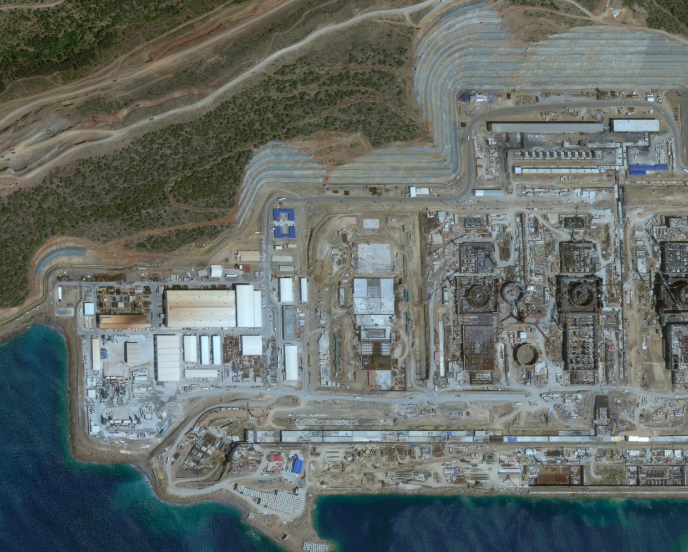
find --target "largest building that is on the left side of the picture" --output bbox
[164,290,236,327]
